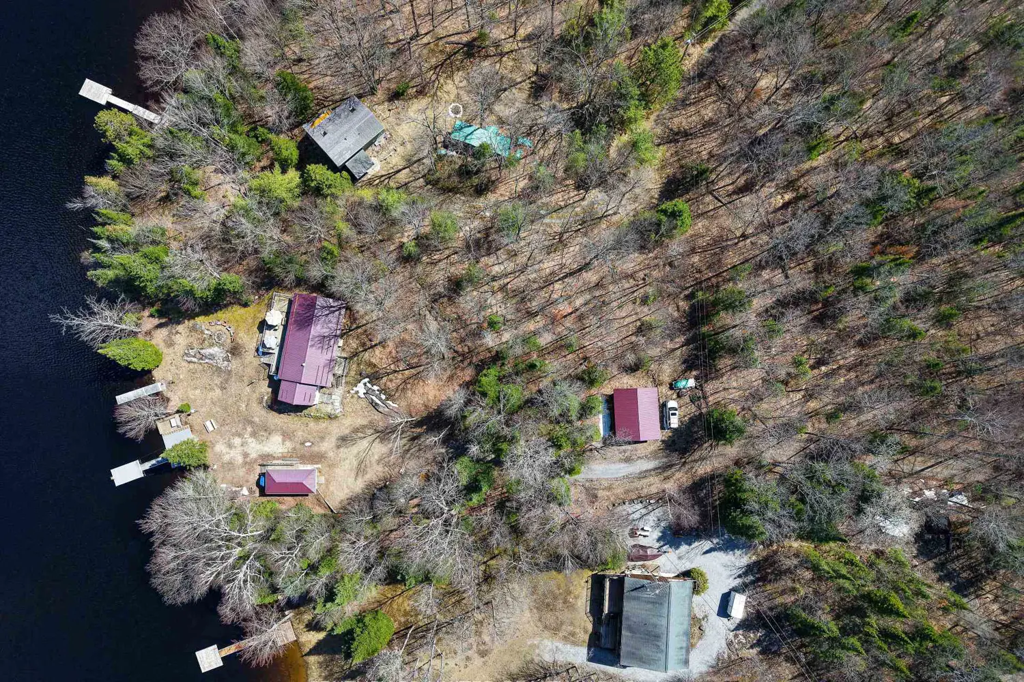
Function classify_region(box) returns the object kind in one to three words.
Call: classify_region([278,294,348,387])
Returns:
building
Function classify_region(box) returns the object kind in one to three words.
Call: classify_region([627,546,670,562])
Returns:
boat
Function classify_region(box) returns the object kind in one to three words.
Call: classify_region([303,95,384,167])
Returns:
building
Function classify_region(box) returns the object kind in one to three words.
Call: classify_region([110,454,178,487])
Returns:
pier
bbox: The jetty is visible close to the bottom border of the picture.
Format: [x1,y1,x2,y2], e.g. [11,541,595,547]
[195,621,297,673]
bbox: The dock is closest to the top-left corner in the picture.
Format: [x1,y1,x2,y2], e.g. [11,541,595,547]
[78,78,170,126]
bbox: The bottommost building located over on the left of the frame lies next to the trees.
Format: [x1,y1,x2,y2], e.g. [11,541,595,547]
[265,468,318,495]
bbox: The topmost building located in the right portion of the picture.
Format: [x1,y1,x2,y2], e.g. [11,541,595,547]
[614,387,661,441]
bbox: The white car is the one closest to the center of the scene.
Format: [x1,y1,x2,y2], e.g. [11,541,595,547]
[665,399,679,428]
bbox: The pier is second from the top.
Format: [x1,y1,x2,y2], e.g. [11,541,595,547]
[115,382,167,405]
